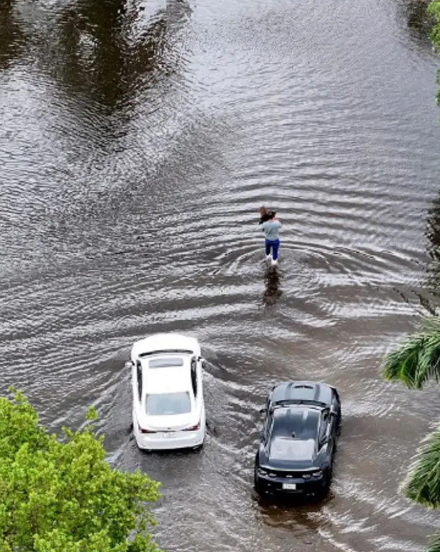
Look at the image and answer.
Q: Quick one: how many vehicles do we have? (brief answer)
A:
2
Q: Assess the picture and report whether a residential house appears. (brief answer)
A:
No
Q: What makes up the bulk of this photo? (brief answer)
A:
water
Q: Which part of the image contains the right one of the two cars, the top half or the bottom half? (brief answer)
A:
bottom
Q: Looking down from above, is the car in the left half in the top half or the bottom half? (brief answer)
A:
bottom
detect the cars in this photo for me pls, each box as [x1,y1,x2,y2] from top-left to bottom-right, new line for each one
[255,377,344,500]
[125,328,204,446]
